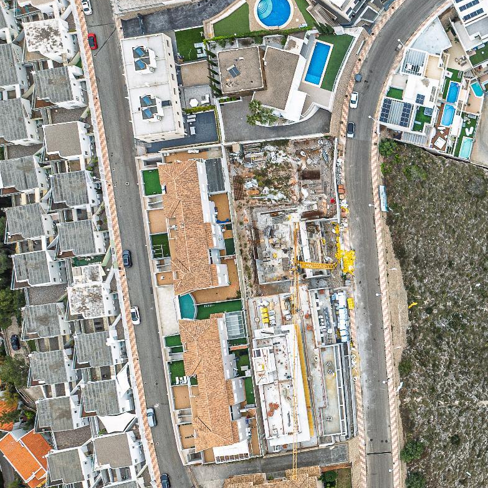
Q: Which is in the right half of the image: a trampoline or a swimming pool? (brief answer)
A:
swimming pool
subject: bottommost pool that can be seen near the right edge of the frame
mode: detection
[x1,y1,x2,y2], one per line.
[459,137,474,158]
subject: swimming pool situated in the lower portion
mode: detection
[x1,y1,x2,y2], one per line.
[179,293,196,321]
